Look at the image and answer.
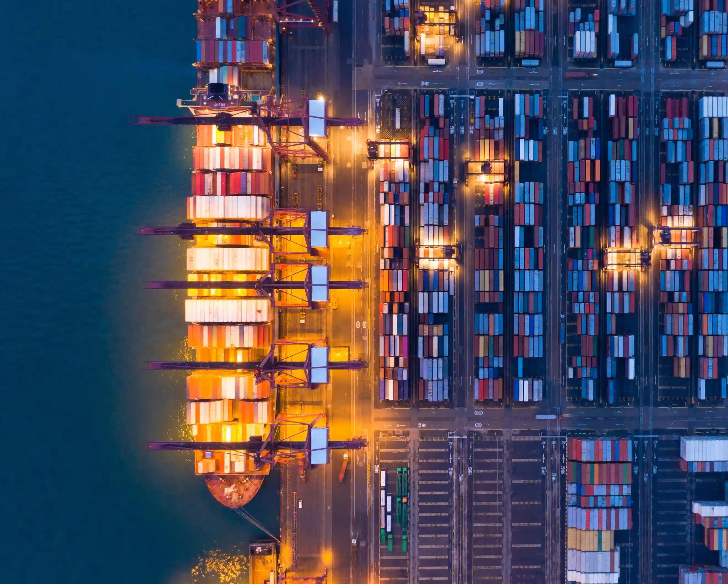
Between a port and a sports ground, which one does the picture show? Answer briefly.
port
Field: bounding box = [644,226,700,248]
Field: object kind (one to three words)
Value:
container crane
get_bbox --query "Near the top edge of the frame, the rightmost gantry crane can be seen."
[412,10,460,41]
